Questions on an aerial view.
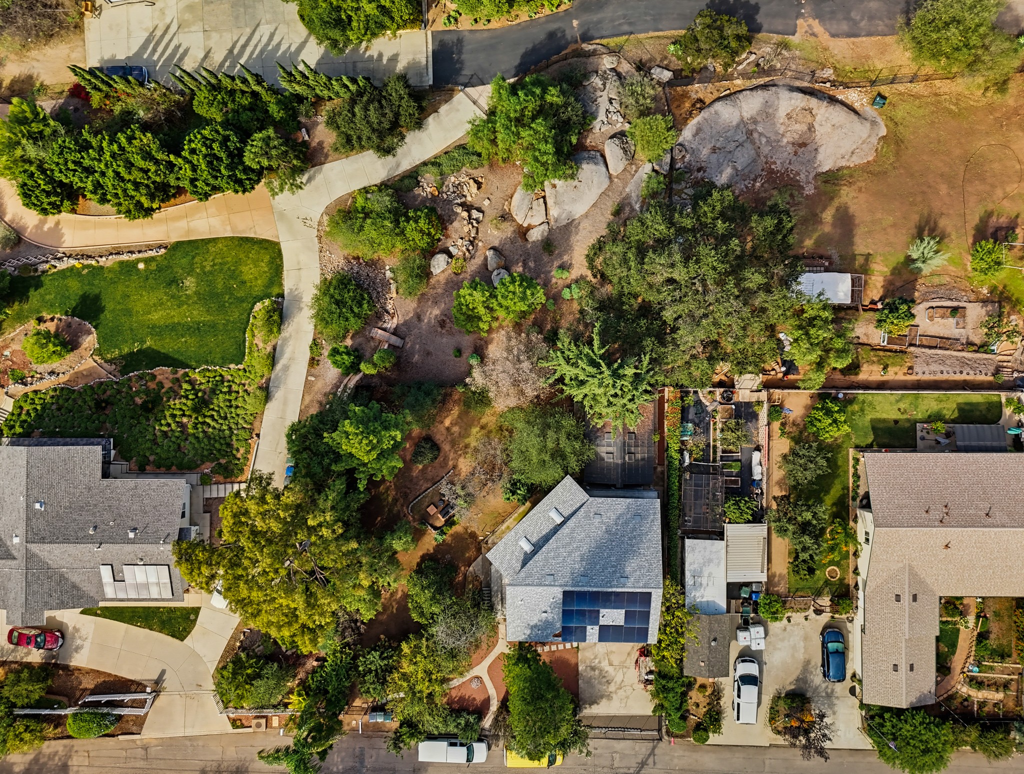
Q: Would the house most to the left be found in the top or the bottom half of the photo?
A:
bottom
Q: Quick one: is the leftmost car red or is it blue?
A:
red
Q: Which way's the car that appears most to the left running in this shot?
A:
from left to right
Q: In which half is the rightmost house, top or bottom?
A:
bottom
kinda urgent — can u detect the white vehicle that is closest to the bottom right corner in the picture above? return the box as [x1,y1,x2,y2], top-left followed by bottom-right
[731,655,761,729]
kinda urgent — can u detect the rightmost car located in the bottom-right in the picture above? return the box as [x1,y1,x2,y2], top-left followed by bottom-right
[818,626,848,683]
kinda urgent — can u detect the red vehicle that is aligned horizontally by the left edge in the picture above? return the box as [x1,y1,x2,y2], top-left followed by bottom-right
[7,625,68,654]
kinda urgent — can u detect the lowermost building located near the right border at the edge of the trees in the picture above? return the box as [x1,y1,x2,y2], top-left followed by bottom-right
[849,451,1024,708]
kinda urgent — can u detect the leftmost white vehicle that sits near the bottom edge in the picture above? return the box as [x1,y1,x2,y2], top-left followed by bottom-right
[417,735,488,768]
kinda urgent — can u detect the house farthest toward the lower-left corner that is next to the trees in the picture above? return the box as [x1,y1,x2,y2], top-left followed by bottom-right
[0,446,208,626]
